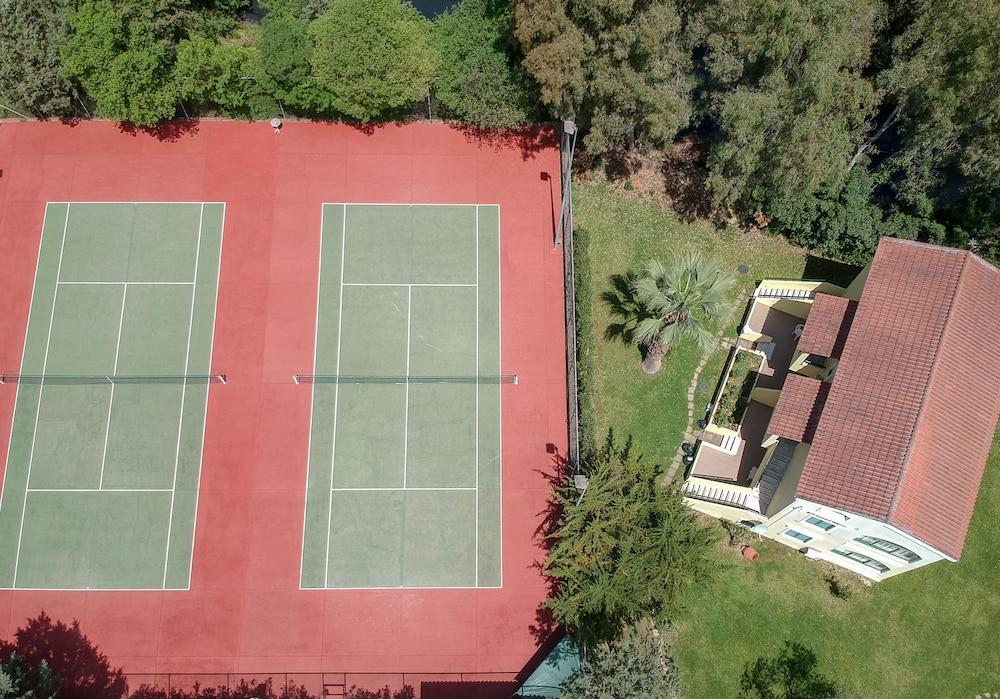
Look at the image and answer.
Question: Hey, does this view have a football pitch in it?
No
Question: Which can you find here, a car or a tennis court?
tennis court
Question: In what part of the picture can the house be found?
right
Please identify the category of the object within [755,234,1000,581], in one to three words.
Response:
house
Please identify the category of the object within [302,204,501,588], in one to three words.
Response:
tennis court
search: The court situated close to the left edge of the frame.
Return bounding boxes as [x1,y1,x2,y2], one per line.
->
[0,203,225,591]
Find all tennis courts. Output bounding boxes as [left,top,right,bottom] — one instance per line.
[0,203,225,591]
[302,204,501,588]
